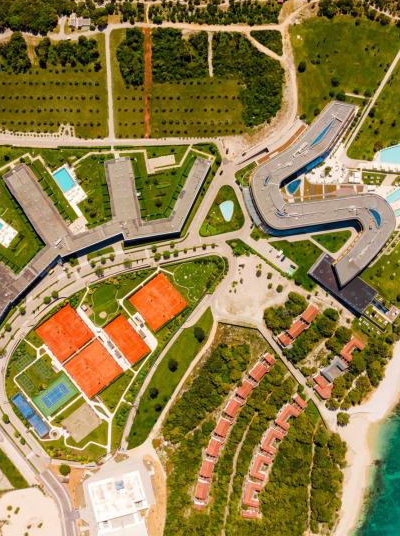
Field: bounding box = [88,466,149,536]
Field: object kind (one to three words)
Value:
building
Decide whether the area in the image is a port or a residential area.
residential area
